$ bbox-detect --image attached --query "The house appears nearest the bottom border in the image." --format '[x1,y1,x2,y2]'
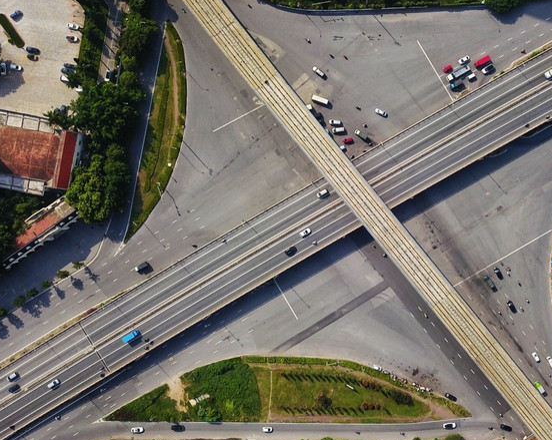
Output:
[2,197,90,272]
